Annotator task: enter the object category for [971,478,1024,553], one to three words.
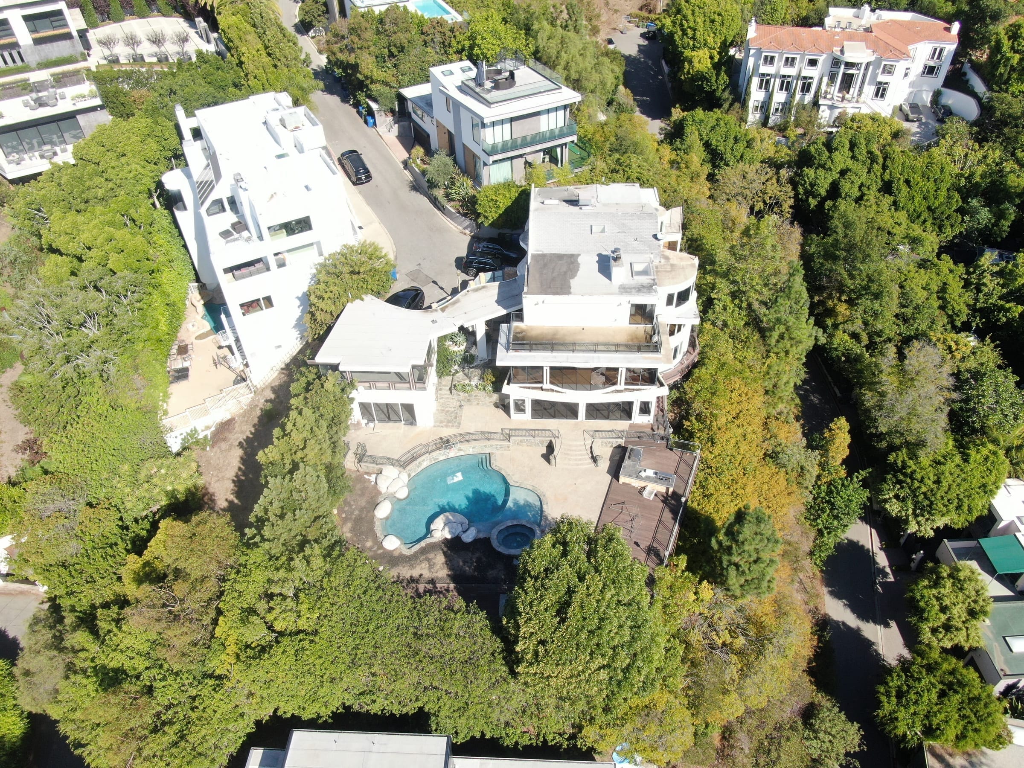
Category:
house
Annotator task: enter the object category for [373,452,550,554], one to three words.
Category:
swimming pool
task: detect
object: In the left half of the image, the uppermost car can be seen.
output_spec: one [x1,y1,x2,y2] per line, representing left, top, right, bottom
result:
[339,153,374,192]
